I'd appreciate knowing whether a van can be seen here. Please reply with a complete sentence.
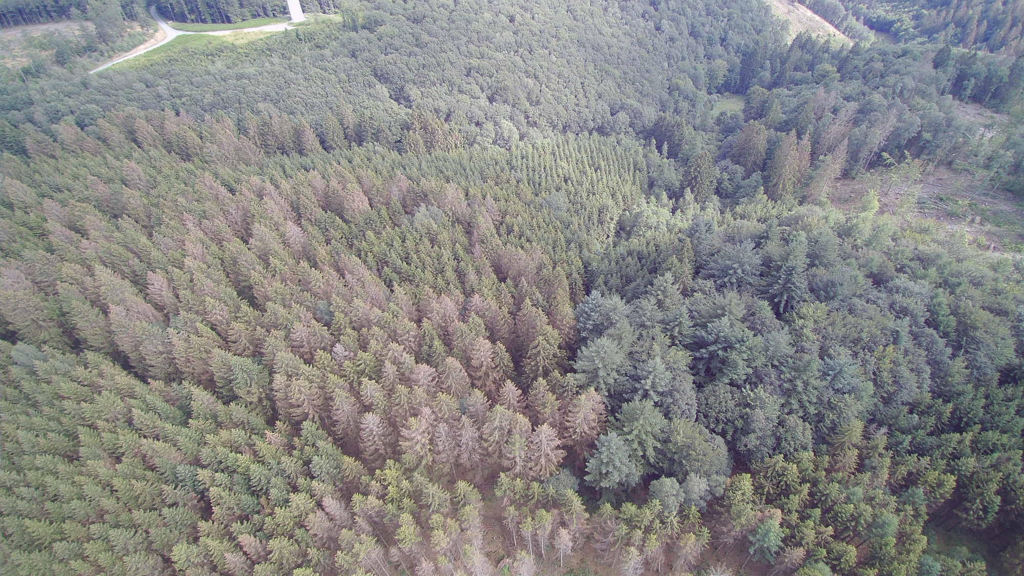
No, no van is visible in the view.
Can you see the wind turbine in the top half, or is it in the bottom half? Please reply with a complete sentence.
Seen from above, the wind turbine lies in the top half of the view.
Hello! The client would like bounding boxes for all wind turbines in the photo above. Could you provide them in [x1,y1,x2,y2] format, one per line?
[288,0,310,24]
